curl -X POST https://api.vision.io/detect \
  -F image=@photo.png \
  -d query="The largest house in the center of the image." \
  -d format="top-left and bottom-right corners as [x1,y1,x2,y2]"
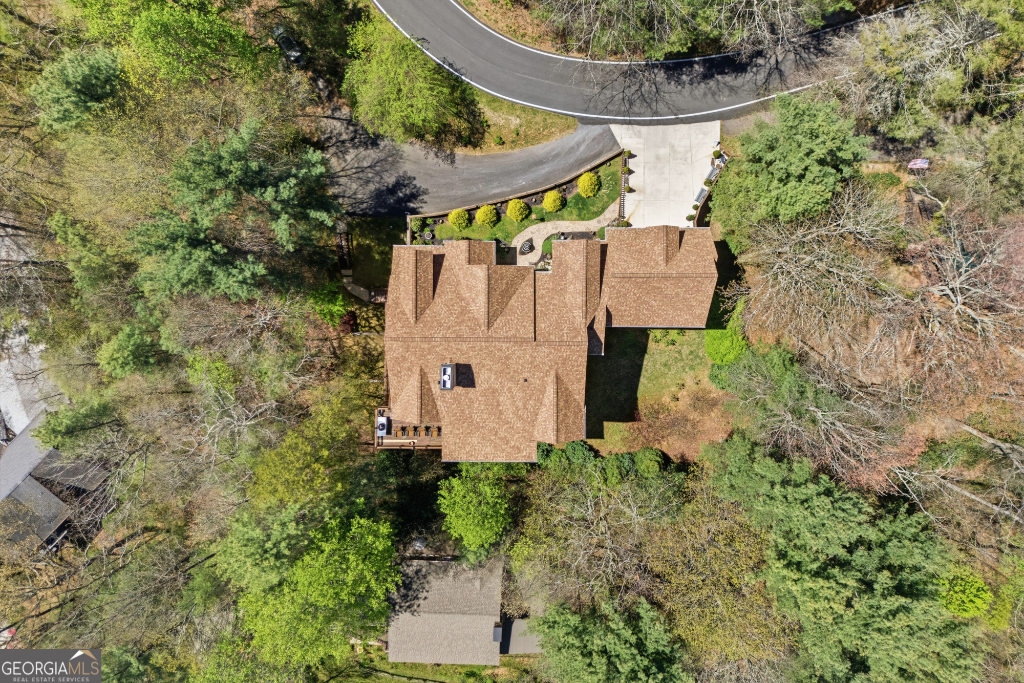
[384,225,718,463]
